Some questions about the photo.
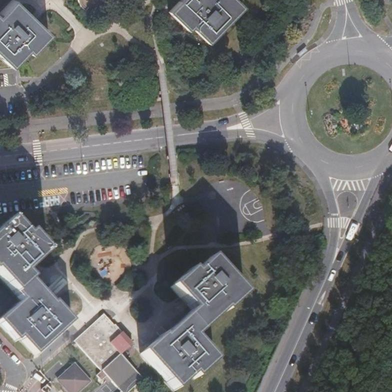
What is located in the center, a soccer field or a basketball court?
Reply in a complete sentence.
There is a basketball court in the center.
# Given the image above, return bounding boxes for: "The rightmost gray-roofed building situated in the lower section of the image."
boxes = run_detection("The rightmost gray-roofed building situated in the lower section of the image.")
[144,250,254,384]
